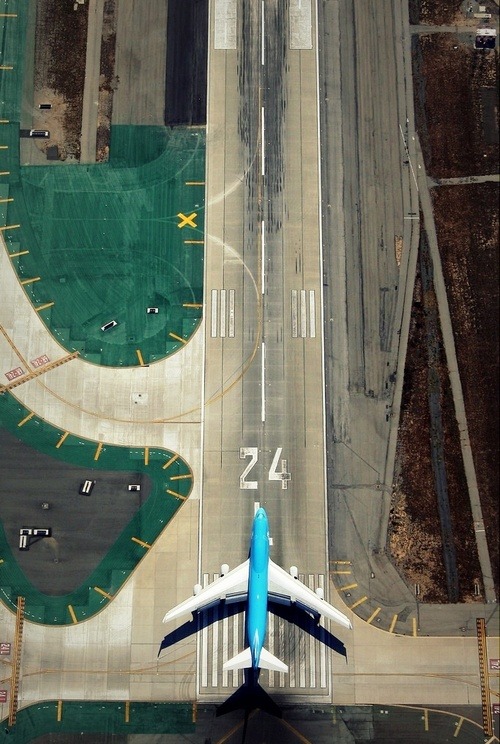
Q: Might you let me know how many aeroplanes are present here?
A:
1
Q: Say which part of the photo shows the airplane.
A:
bottom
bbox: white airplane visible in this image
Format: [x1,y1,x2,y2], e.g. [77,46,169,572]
[161,508,350,672]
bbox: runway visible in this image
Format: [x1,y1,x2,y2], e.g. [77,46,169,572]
[180,0,334,704]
